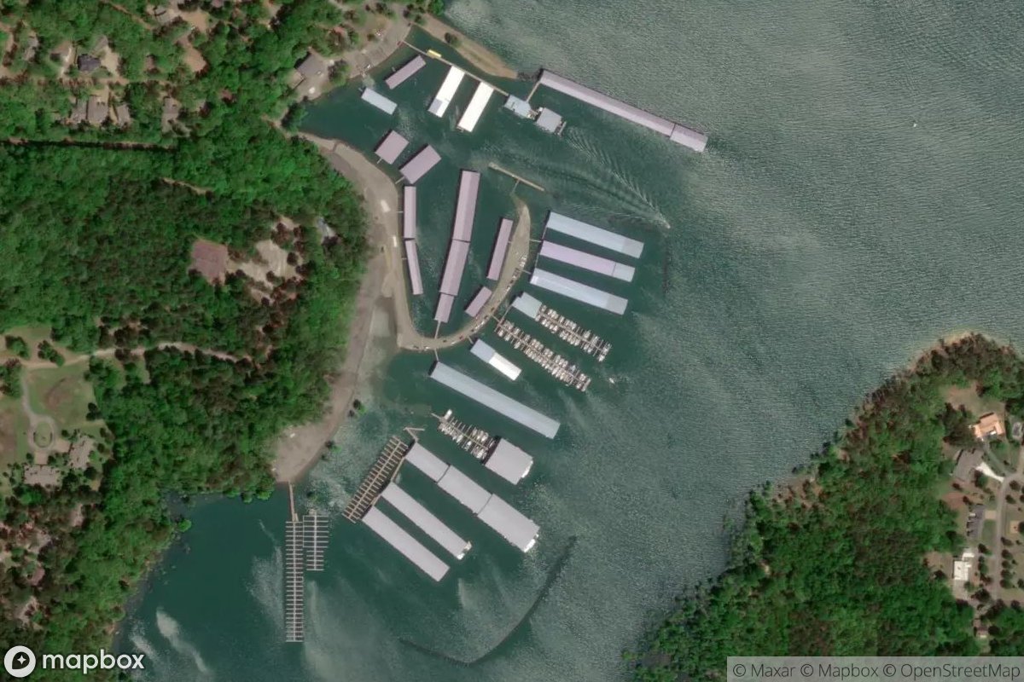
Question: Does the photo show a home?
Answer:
Yes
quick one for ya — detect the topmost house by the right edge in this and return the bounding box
[973,413,1006,438]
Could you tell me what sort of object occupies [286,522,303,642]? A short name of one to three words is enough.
pier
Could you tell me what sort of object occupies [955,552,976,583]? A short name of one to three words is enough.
building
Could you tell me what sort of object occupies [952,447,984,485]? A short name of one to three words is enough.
house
